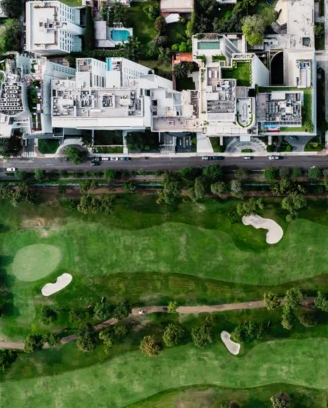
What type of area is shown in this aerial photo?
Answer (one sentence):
The area seen from above is a golf course.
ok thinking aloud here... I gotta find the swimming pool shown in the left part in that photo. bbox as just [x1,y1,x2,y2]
[109,28,131,41]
